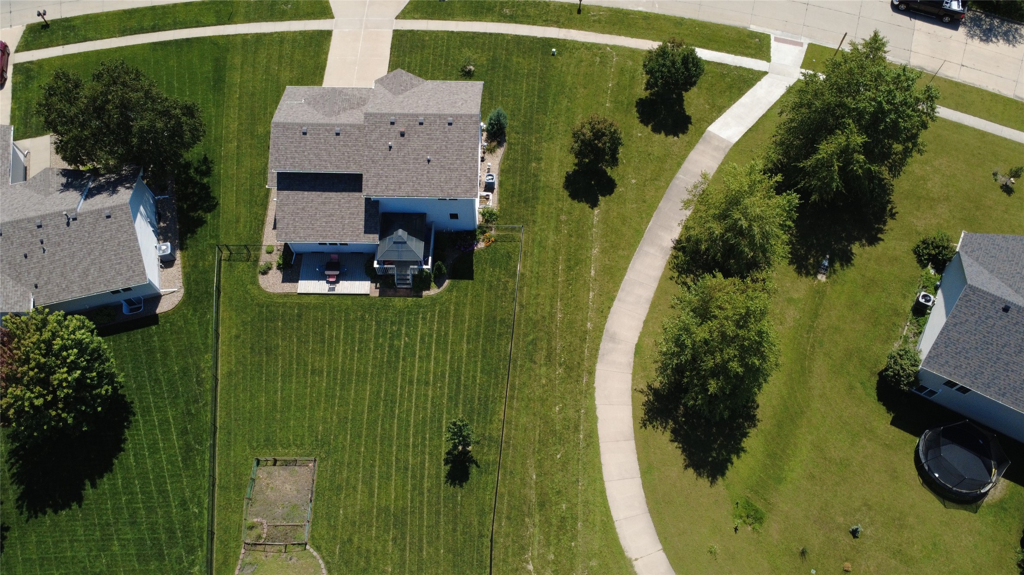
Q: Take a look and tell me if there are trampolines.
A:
Yes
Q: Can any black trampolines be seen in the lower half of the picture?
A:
Yes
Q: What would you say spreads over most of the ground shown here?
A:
grass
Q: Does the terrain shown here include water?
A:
No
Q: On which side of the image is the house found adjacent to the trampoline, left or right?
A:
right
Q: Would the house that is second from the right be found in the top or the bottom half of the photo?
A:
top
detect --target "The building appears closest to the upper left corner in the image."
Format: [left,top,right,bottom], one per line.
[0,125,177,331]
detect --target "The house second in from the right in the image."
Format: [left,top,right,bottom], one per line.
[267,66,482,255]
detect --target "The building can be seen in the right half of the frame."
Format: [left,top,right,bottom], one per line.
[903,230,1024,442]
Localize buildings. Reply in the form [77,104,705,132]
[903,230,1024,442]
[0,125,177,331]
[267,66,482,255]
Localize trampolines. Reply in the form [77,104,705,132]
[914,420,1011,503]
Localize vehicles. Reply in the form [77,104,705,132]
[888,0,970,26]
[0,38,12,86]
